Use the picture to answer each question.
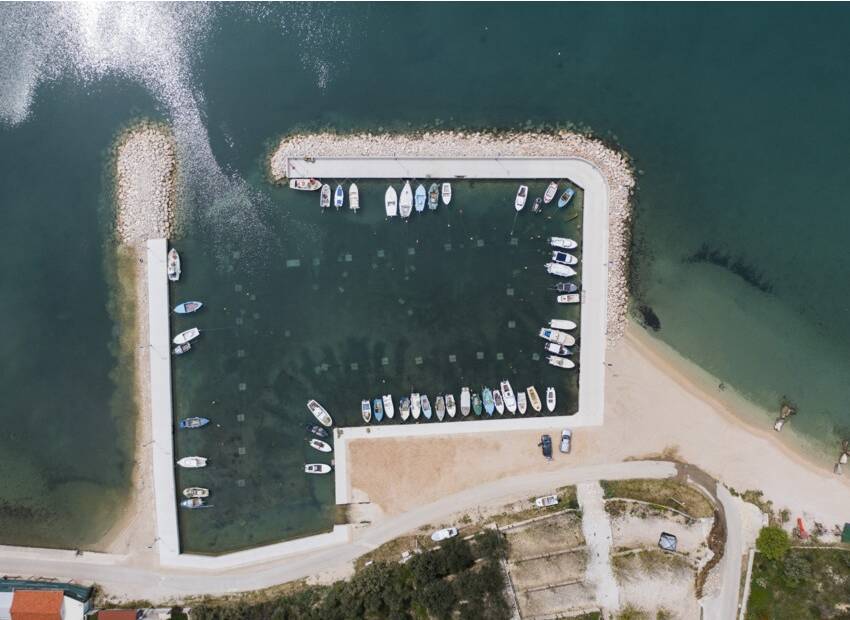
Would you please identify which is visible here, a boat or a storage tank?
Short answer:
boat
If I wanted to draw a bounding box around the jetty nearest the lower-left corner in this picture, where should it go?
[148,239,351,569]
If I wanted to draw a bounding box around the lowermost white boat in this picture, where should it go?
[432,526,460,539]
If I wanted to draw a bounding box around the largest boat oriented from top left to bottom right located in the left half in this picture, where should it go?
[306,399,332,427]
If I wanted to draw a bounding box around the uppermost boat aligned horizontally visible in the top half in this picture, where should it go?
[290,178,326,191]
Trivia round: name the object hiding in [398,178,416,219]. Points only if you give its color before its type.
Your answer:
white boat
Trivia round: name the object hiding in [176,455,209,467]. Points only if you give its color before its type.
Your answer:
white boat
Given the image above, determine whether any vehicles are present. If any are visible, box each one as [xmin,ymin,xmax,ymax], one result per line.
[559,430,573,453]
[535,435,552,457]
